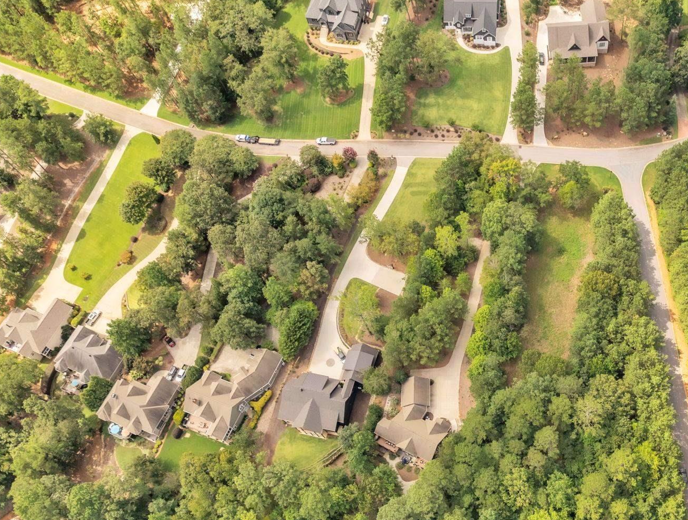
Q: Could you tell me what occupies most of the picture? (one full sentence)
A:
The scene is dominated by trees.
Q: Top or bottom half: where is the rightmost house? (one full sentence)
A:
Seen from above, the rightmost house lies in the top half of the view.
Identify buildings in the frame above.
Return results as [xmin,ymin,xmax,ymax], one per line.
[374,376,451,467]
[306,0,374,41]
[0,298,76,365]
[183,349,285,443]
[546,0,610,66]
[443,0,501,45]
[277,344,380,436]
[97,376,184,445]
[54,326,127,397]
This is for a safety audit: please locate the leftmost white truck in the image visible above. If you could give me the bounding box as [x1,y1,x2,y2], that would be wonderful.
[82,307,103,328]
